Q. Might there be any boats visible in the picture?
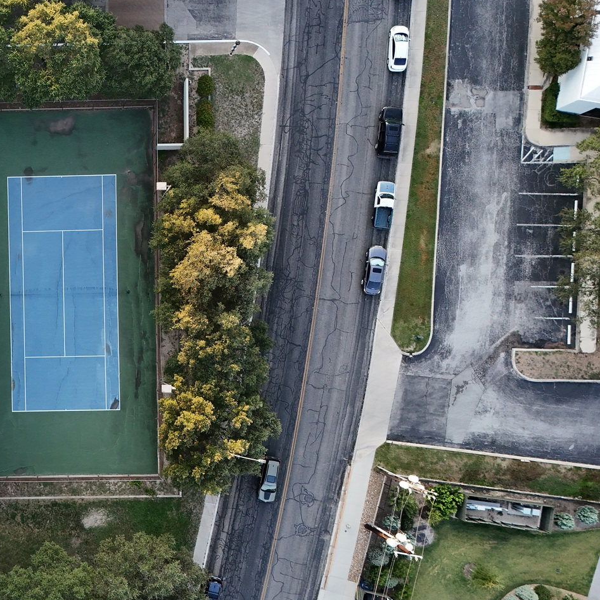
No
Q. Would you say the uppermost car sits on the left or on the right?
right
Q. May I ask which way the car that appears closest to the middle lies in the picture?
up and down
